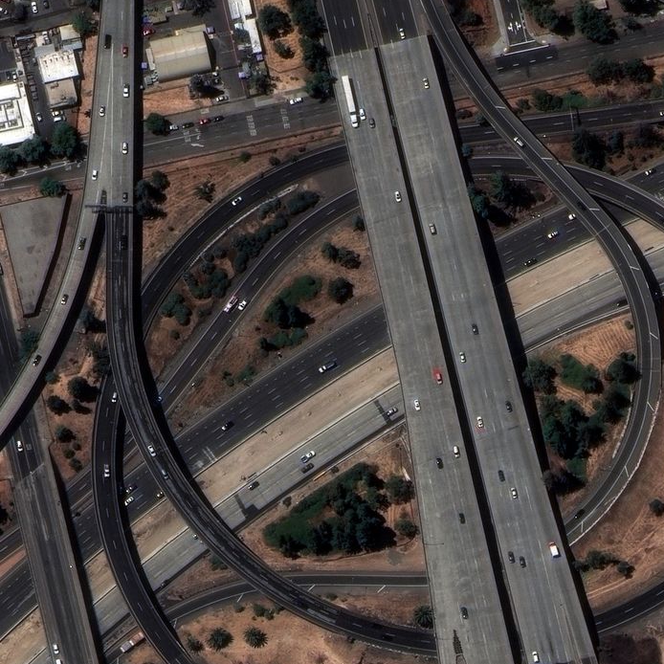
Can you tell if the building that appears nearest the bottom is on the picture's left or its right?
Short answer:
left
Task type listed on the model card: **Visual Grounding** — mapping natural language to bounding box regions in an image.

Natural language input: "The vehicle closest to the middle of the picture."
[317,359,336,373]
